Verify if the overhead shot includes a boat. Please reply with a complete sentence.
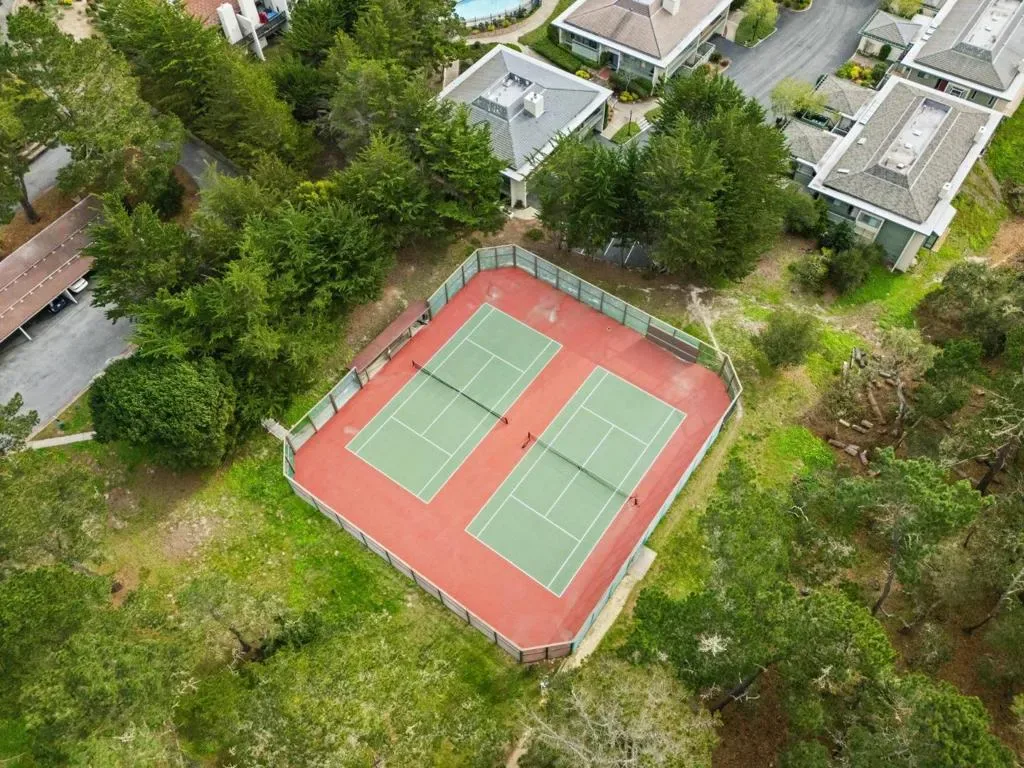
No, I can't see a single boat in this photo.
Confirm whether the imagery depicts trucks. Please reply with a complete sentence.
No, there's no truck here.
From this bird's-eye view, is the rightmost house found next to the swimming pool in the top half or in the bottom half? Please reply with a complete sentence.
It is in the top half that the rightmost house found next to the swimming pool appears.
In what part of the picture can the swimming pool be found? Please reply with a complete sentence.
The swimming pool appears toward the top of the photo.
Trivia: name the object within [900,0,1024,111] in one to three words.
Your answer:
house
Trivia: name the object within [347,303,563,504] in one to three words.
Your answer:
tennis court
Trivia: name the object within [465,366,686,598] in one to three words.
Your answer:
tennis court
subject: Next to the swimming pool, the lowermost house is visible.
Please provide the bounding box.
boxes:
[435,45,615,210]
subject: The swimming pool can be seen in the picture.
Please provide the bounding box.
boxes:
[435,0,530,28]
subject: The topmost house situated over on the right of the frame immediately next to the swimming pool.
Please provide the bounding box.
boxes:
[549,0,735,89]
